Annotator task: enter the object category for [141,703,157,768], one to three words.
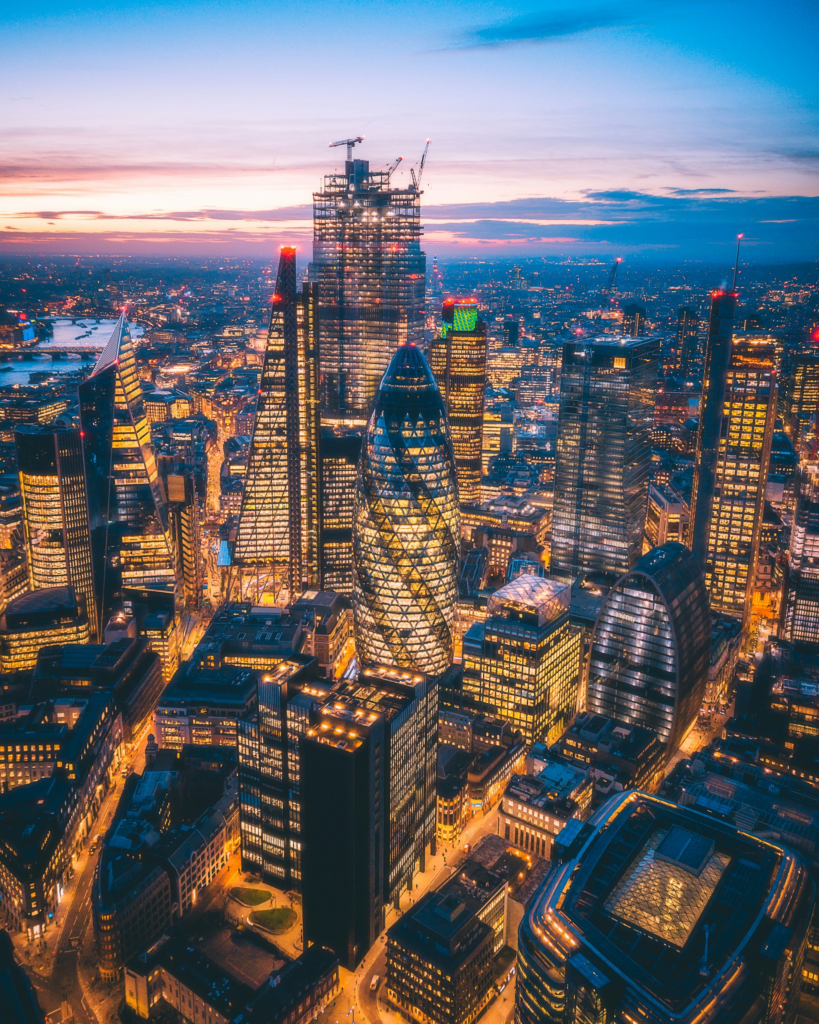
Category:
building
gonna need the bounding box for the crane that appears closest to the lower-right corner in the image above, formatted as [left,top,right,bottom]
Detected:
[694,921,718,982]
